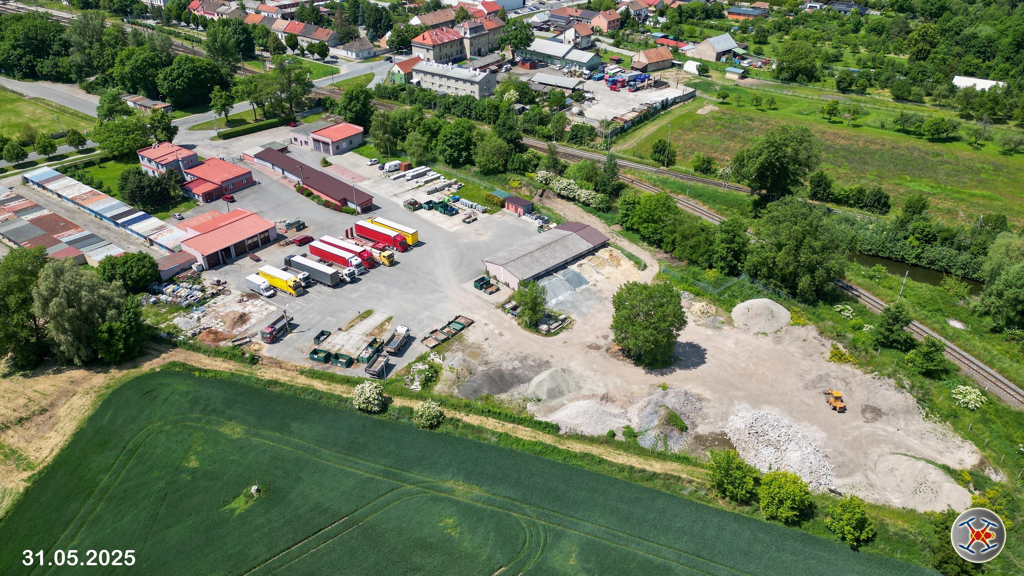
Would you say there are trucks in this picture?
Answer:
Yes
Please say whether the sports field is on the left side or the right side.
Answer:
left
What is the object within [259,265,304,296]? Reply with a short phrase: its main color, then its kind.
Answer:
yellow truck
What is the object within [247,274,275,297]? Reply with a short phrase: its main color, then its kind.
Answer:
white vehicle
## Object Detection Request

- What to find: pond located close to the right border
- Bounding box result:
[847,252,987,293]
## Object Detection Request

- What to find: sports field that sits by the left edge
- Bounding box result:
[0,93,100,155]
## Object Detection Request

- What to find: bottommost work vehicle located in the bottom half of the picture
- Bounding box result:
[822,389,850,412]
